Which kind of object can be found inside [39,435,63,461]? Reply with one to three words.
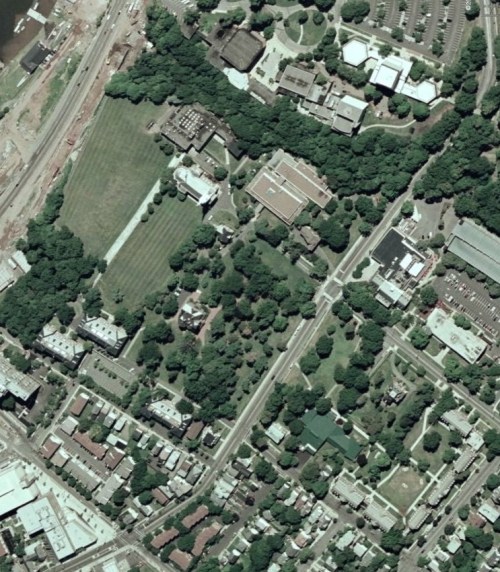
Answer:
house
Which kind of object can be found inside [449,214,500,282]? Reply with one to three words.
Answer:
shed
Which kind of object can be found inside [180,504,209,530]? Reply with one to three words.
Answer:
building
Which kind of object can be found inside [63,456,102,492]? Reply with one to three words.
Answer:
house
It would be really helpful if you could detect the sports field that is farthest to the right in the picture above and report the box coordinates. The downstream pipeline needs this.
[384,466,426,512]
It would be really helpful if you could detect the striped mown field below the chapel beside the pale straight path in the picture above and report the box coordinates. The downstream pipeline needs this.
[98,182,204,315]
